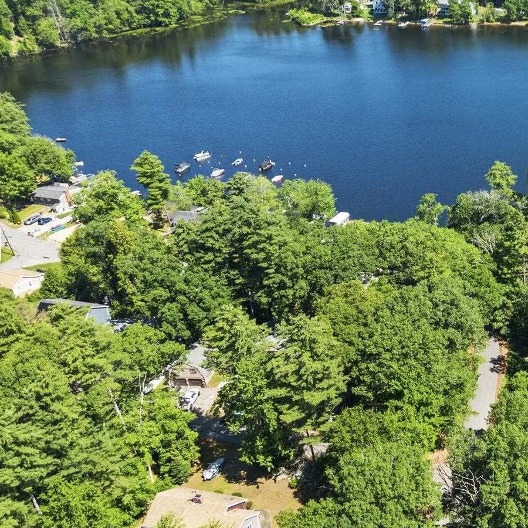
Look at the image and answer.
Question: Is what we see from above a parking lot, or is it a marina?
marina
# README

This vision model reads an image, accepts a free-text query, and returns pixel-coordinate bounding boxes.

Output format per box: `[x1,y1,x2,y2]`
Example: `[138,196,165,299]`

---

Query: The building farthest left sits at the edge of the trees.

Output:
[0,266,44,300]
